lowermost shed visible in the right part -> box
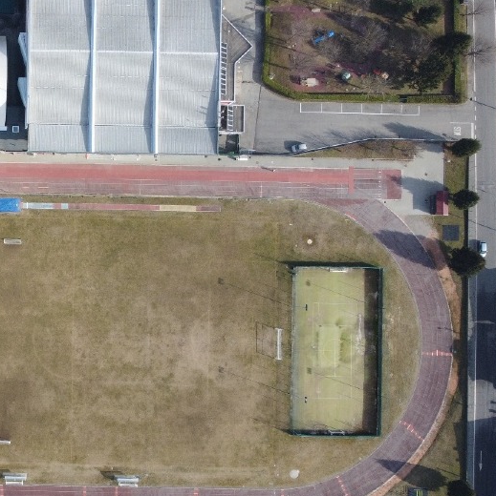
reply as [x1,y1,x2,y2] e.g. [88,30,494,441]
[430,190,448,215]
